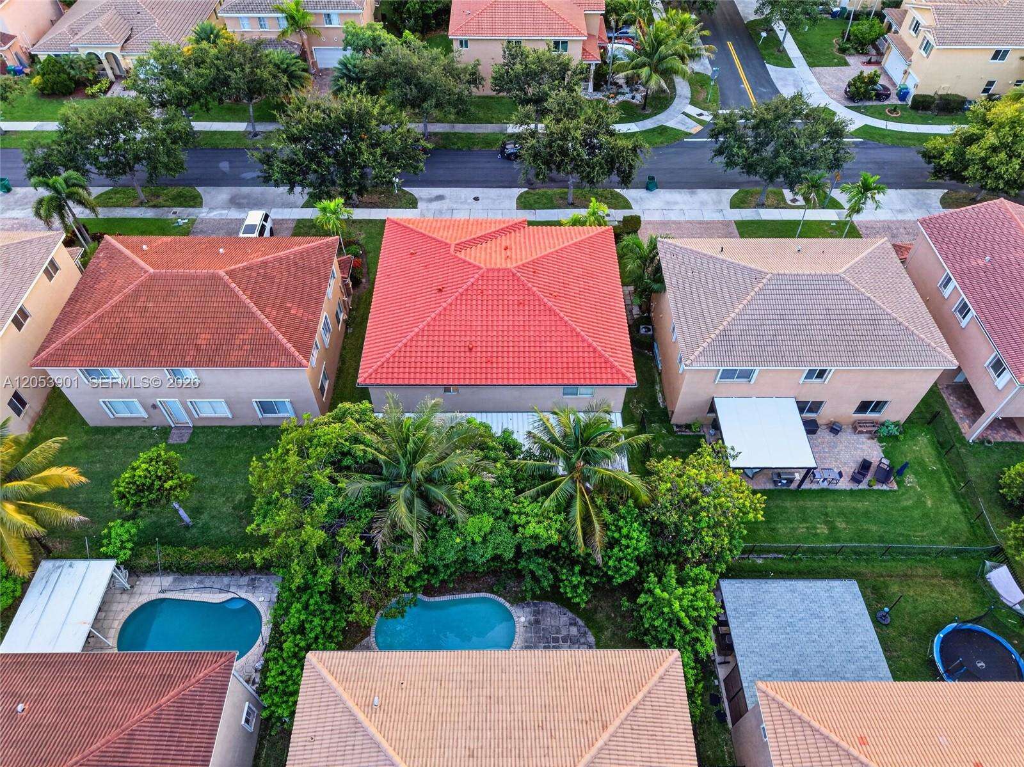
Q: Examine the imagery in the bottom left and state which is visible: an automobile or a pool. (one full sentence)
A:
Looking in the bottom left, you will find a pool.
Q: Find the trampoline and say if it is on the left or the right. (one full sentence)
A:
You can find the trampoline on the right side of the picture.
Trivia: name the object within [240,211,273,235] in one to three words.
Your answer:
car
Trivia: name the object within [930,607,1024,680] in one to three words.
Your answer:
trampoline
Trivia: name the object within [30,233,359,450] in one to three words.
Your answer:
house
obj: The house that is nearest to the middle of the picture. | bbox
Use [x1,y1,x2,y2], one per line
[355,216,639,416]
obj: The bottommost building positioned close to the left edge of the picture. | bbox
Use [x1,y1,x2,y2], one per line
[0,649,260,767]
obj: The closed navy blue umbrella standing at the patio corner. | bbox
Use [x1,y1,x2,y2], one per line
[884,460,912,490]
